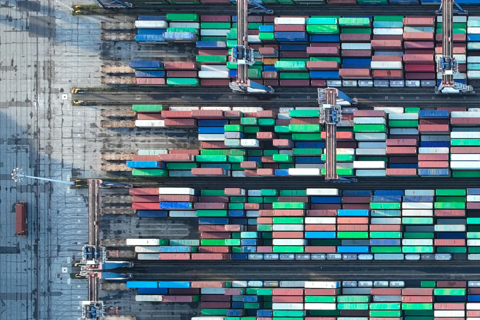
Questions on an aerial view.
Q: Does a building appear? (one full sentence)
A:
No, I can't see a single building in this photo.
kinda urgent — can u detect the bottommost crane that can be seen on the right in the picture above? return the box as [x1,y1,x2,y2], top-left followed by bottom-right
[314,86,361,184]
